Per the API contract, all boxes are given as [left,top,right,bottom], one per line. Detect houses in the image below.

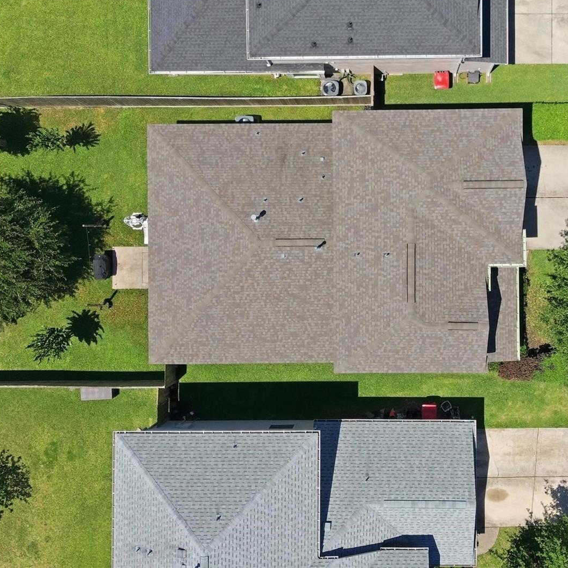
[148,110,527,373]
[111,415,480,568]
[146,0,509,85]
